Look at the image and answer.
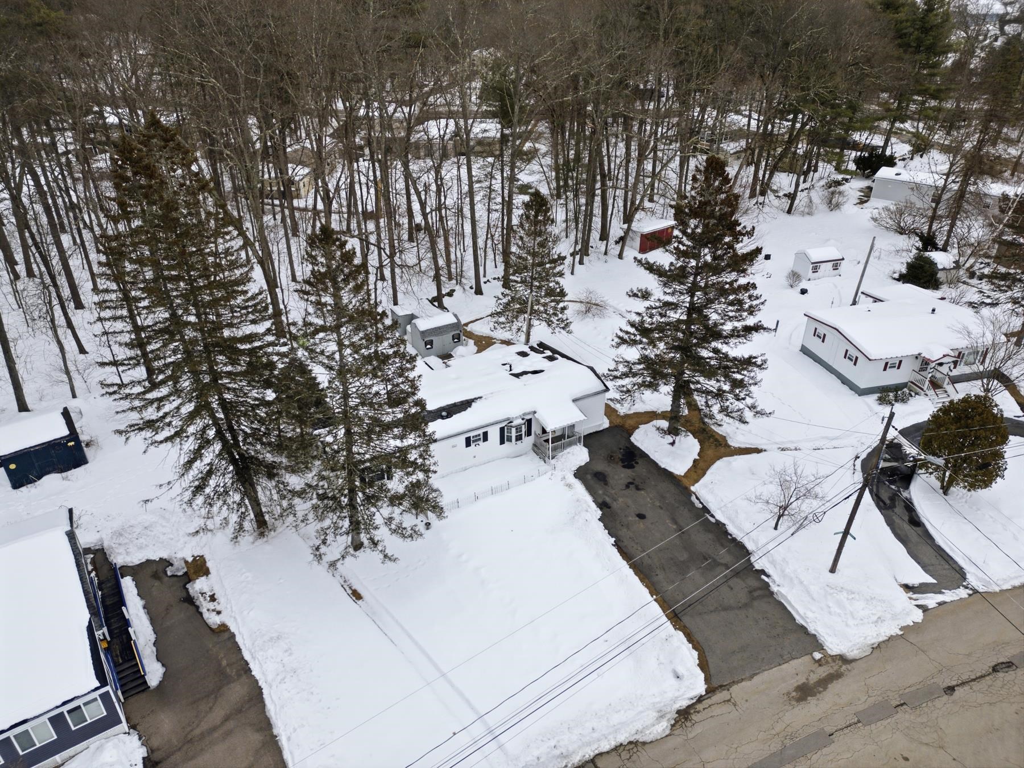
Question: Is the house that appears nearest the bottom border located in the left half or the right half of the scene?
left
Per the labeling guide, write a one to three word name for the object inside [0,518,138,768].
house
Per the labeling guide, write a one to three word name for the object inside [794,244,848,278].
shed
